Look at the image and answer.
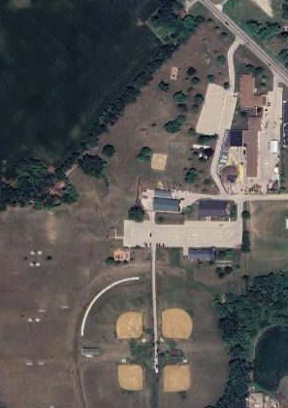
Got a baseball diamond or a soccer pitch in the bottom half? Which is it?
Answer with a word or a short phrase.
baseball diamond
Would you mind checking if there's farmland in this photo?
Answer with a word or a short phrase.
Yes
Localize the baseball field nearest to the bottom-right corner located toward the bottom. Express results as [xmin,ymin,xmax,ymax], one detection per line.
[164,365,190,393]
